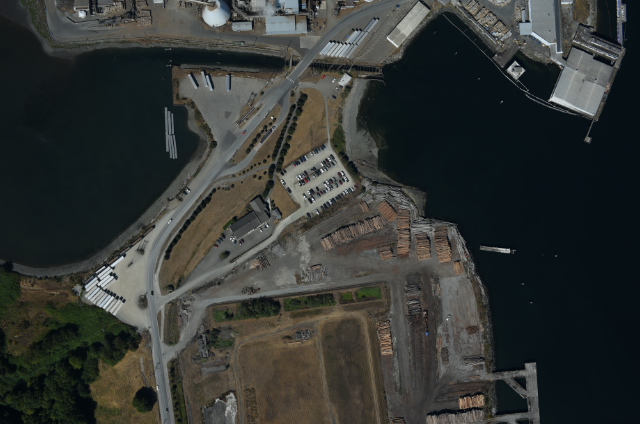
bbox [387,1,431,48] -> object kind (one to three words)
building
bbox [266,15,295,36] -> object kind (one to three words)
shed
